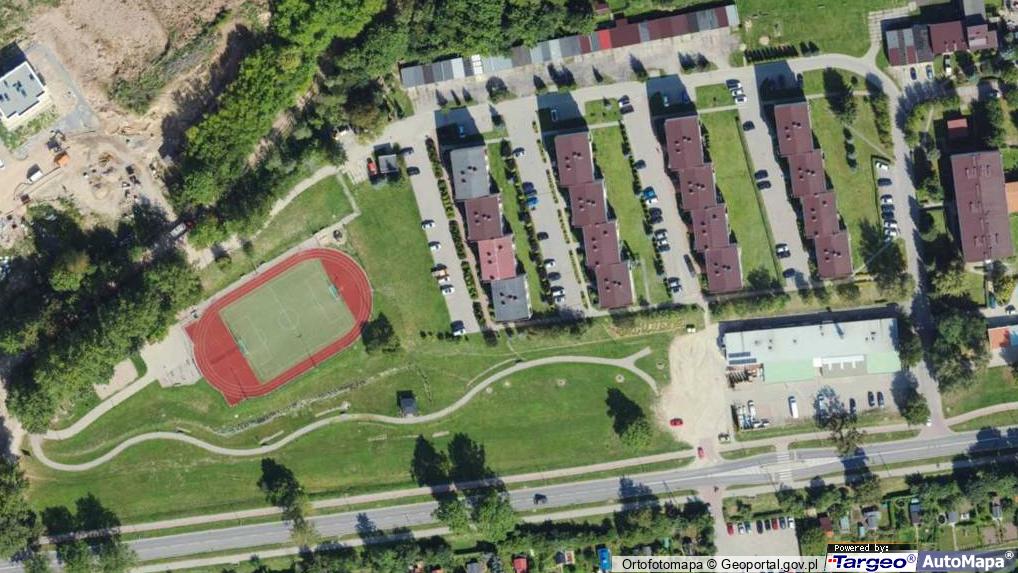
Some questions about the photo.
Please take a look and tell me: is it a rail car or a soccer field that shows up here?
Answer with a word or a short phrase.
soccer field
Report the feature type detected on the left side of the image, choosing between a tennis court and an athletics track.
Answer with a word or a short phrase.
athletics track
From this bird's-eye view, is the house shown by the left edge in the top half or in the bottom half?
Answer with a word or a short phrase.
top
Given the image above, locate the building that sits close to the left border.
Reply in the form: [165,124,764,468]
[0,60,52,124]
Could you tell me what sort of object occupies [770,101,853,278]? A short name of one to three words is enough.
building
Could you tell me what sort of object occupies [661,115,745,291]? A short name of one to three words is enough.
building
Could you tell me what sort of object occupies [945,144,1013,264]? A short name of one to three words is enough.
house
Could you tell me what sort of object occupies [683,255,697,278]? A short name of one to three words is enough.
vehicle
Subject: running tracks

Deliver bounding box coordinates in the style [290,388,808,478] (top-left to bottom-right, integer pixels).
[184,247,374,408]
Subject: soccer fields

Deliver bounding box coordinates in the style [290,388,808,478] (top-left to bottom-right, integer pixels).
[220,259,356,384]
